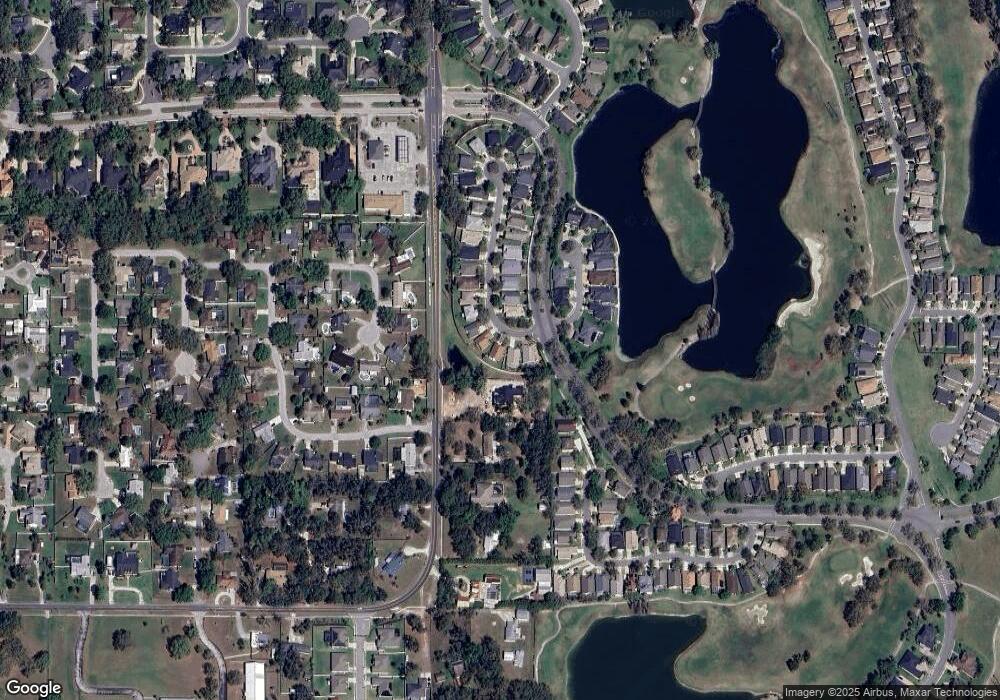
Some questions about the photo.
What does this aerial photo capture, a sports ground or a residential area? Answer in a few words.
residential area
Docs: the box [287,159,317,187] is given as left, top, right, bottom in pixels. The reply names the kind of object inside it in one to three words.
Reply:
house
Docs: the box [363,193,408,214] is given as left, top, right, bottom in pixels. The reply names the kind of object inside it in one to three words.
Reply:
building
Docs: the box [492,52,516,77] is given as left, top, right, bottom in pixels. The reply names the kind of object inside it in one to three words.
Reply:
house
